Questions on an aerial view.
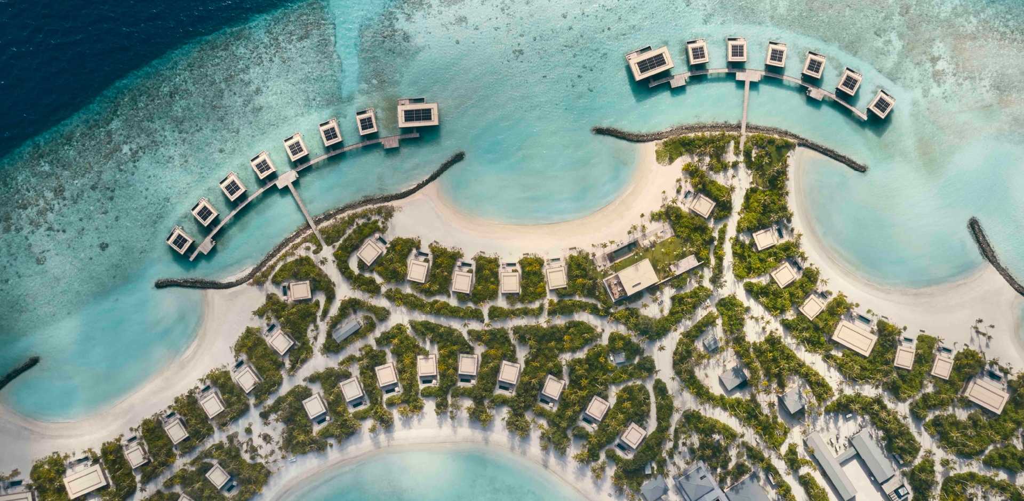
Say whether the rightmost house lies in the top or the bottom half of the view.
bottom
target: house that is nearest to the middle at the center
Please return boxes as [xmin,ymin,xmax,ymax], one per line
[500,261,521,293]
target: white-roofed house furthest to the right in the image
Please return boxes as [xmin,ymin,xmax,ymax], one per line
[961,368,1011,414]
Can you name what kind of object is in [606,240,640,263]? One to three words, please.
swimming pool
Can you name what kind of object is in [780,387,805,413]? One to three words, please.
shed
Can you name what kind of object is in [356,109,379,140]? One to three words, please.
house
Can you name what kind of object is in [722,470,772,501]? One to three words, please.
building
